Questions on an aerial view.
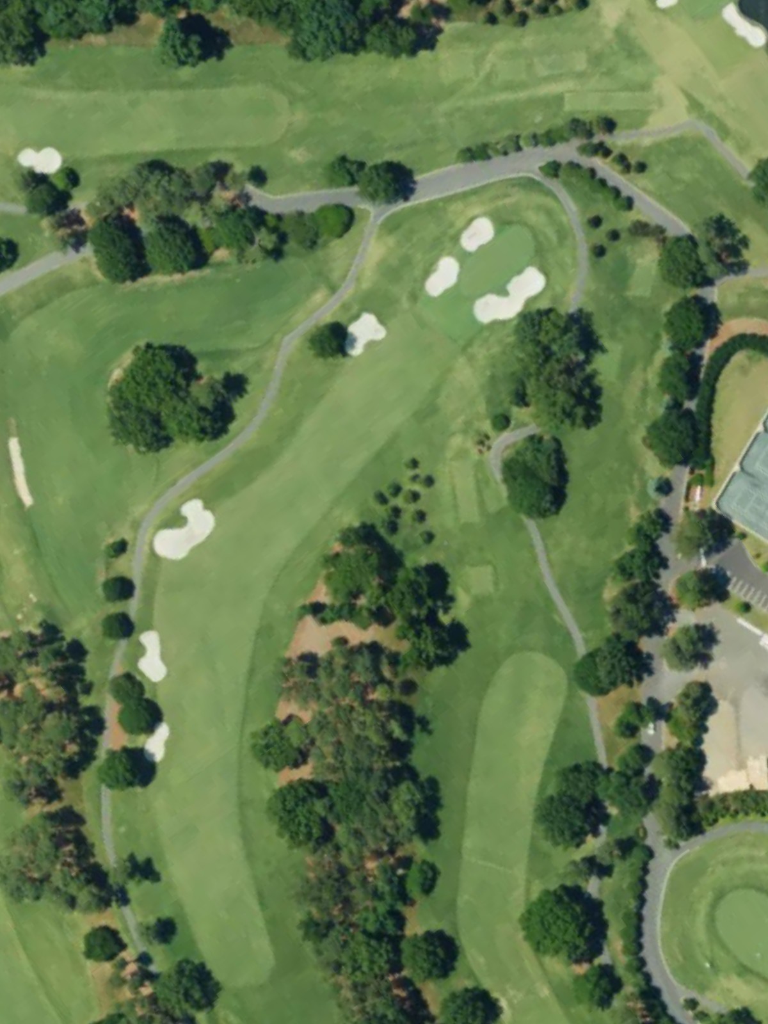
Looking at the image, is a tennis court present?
Yes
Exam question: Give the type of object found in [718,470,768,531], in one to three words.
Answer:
tennis court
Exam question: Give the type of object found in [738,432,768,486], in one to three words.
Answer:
tennis court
